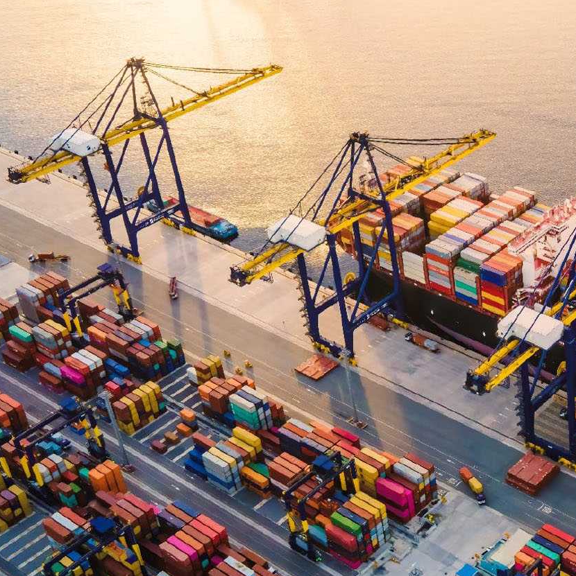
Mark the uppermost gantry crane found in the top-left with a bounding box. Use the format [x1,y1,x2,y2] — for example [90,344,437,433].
[5,53,283,262]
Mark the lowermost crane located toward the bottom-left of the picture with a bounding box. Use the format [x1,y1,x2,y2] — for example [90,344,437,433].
[45,513,157,576]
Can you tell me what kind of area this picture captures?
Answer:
port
